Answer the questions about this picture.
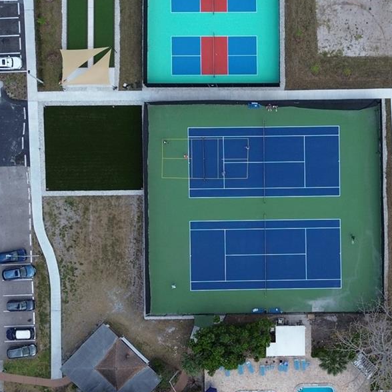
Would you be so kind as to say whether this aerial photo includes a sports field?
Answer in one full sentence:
Yes, the picture does show a sports field.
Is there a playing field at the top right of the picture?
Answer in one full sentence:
No, there is no playing field at the top right of the picture.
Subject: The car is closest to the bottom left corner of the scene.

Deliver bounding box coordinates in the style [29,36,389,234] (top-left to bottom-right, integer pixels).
[6,344,38,360]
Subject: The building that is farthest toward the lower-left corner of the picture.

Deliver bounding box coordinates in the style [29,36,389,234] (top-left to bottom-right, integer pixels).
[62,323,161,392]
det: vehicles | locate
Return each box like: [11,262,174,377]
[7,327,34,341]
[3,265,35,280]
[6,344,38,360]
[6,298,35,312]
[0,55,23,71]
[0,249,28,264]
